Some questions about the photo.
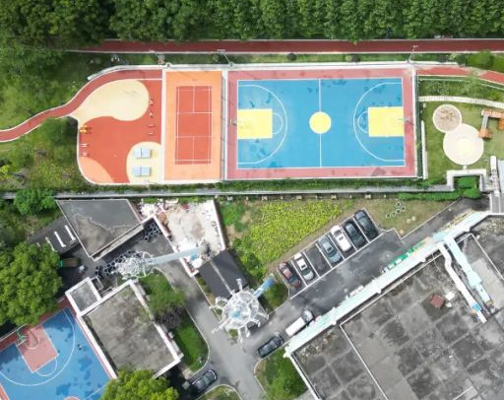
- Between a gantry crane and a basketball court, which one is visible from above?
basketball court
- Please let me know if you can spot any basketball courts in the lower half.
Yes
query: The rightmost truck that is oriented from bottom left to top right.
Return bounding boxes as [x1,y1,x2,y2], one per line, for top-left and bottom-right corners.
[282,309,314,336]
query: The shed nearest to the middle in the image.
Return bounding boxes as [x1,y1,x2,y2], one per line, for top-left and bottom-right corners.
[199,250,252,299]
